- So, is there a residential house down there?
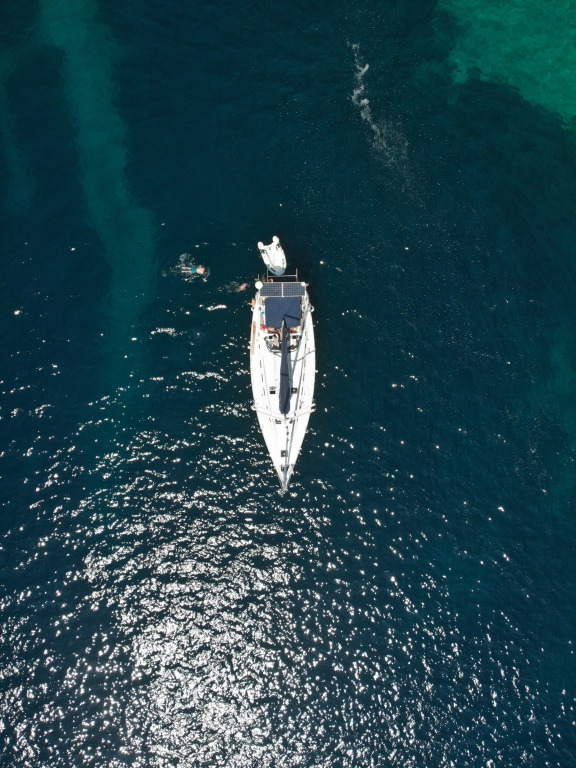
No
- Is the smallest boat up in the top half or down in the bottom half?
top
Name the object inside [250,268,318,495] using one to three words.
boat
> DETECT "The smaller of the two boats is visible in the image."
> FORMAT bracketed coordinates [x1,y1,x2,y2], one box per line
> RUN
[258,238,284,274]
